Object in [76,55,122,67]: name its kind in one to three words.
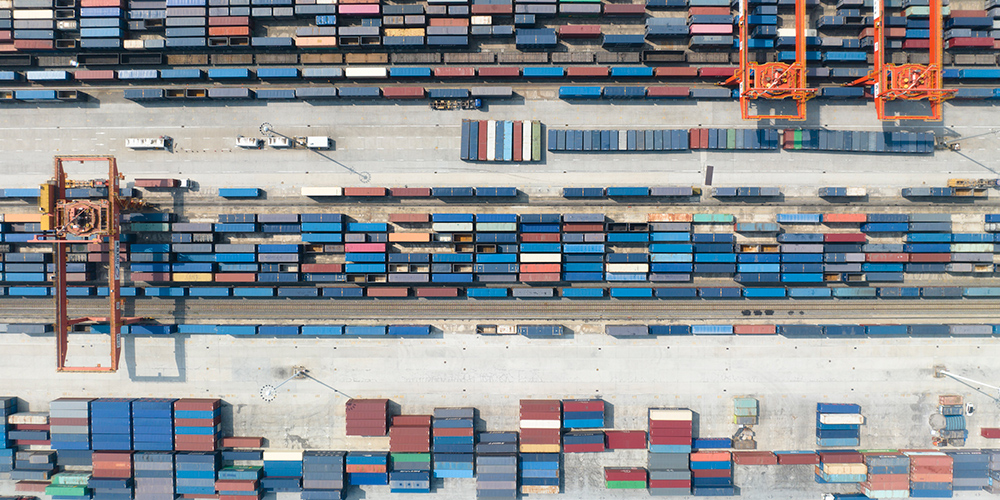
rail car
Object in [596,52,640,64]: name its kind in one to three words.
rail car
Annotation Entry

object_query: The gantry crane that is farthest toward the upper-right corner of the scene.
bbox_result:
[834,0,968,123]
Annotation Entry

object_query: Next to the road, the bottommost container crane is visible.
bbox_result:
[21,153,163,373]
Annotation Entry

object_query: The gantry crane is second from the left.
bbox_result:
[709,0,828,123]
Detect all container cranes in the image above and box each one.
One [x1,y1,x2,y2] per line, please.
[834,0,968,123]
[709,0,828,123]
[21,153,163,373]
